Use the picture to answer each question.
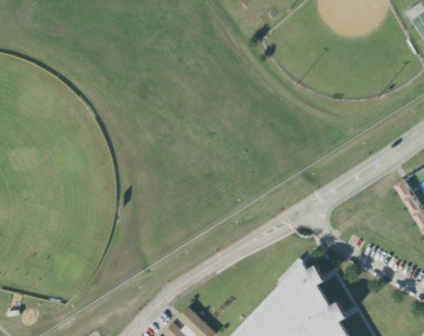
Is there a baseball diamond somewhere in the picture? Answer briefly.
Yes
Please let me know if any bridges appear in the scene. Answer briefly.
No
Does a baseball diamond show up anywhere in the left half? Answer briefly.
Yes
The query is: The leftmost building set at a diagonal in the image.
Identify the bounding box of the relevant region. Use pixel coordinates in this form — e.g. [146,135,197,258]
[178,307,216,336]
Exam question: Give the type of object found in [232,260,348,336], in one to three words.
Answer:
building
